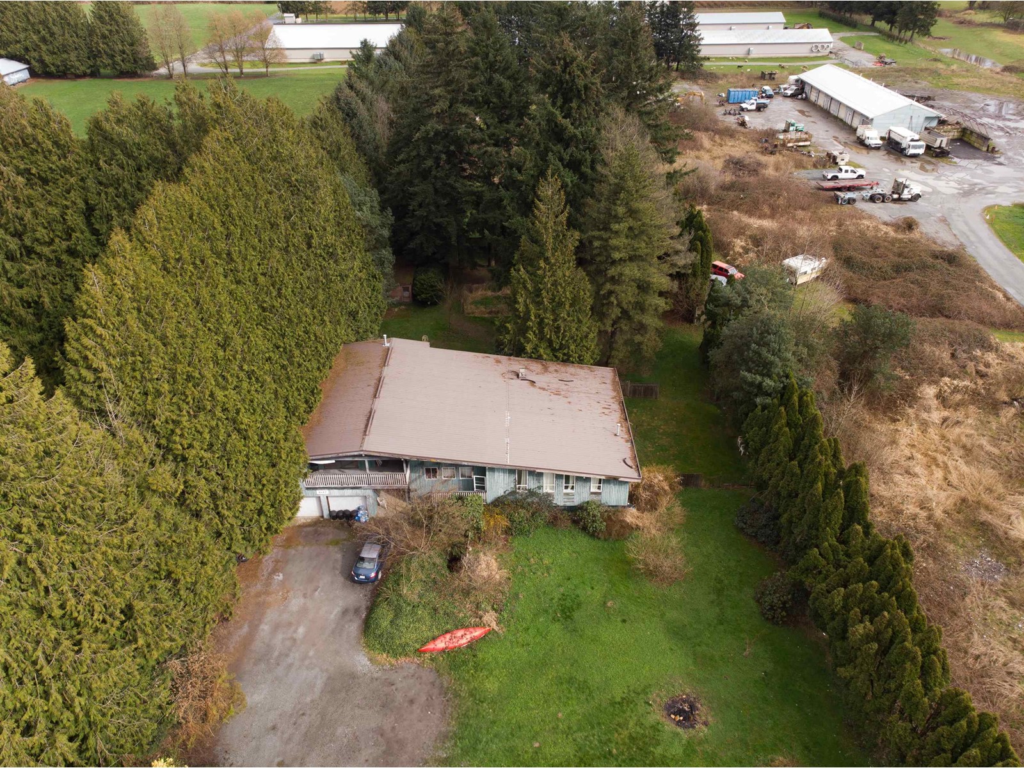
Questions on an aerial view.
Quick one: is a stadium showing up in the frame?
No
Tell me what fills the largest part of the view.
trees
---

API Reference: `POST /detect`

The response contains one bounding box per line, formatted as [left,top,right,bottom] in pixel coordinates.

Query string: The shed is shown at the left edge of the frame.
[0,59,30,88]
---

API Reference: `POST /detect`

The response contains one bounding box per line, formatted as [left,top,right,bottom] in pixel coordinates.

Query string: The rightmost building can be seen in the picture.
[797,62,948,140]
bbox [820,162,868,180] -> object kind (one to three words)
vehicle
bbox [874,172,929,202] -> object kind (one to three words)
truck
